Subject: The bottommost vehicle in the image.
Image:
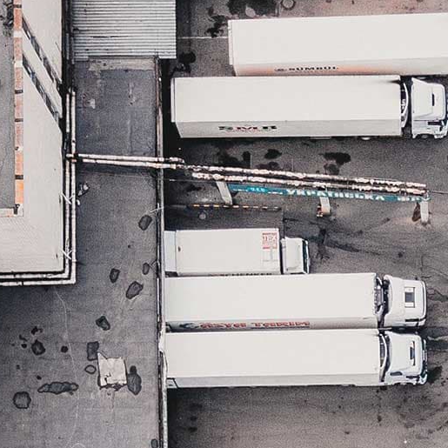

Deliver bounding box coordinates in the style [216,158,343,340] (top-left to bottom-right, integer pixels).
[166,329,430,391]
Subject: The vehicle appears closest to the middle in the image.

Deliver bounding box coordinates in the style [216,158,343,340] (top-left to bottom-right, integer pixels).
[164,228,310,277]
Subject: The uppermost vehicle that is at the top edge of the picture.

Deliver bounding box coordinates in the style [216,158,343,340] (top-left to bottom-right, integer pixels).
[228,13,448,82]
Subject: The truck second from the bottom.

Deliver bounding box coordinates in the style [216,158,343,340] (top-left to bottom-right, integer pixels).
[165,273,428,334]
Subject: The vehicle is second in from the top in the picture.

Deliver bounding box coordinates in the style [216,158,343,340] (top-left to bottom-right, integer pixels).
[170,76,448,145]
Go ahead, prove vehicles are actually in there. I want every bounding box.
[165,273,428,334]
[166,329,430,391]
[228,13,448,82]
[164,228,310,277]
[170,76,448,145]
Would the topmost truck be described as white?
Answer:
Yes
